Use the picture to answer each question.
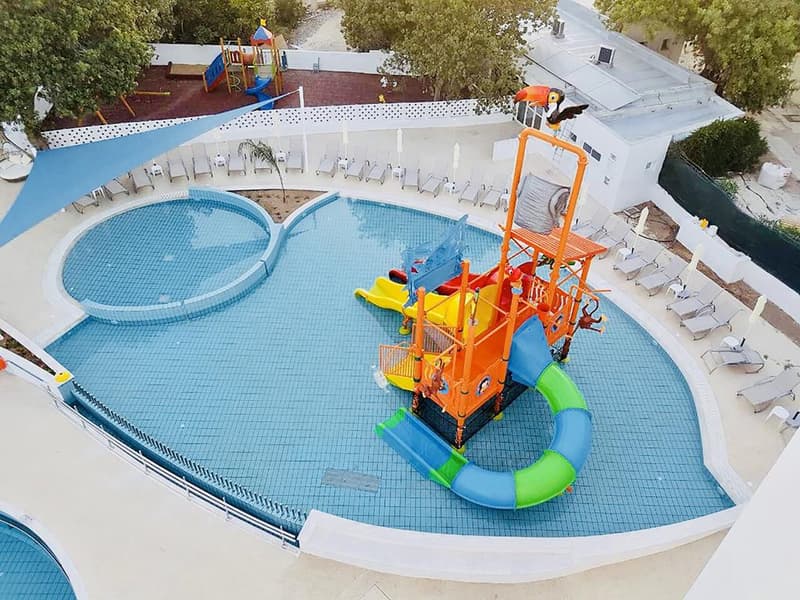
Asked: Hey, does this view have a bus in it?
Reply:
No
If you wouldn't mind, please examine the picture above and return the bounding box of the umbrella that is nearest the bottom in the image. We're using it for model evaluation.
[745,294,771,336]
